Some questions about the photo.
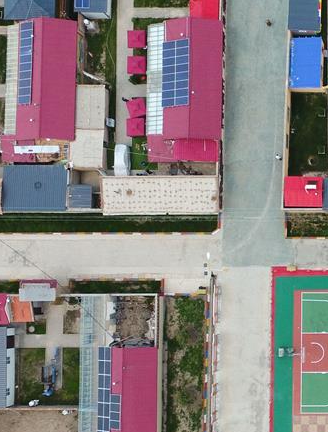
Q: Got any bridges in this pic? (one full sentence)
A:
No, the photo shows no bridge.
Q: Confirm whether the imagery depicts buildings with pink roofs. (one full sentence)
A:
Yes, looking at the shot, I can spot a building with a pink roof.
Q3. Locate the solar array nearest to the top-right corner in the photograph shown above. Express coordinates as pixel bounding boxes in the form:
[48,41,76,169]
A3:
[163,36,187,109]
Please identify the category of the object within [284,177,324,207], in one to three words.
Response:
shed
